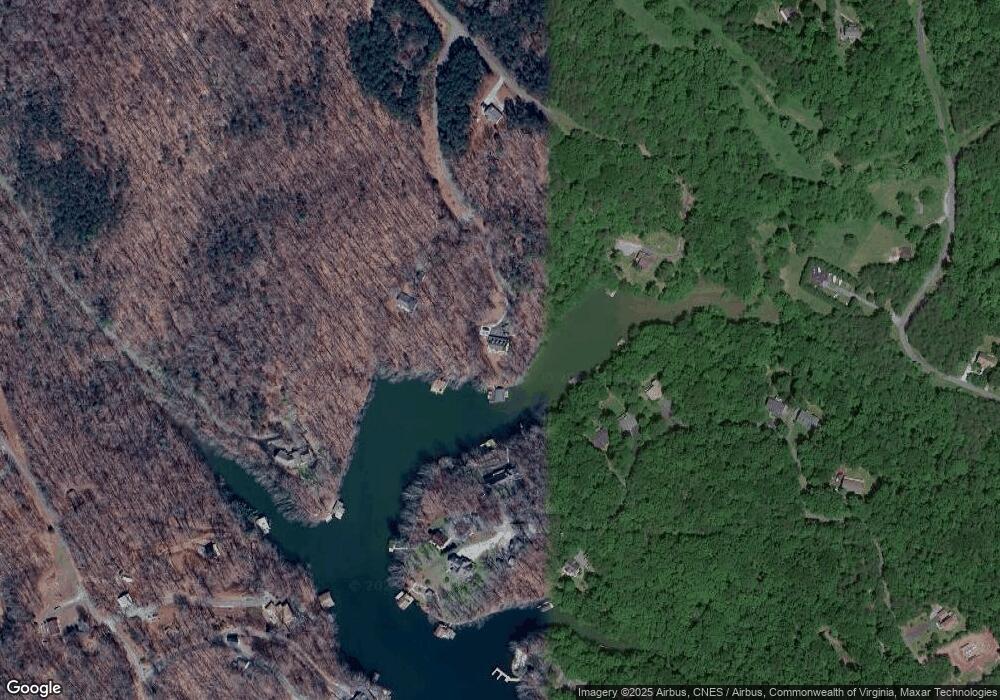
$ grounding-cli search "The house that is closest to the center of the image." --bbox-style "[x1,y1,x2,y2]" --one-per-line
[488,337,509,355]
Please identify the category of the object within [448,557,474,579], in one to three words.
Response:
house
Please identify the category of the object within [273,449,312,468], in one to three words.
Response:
house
